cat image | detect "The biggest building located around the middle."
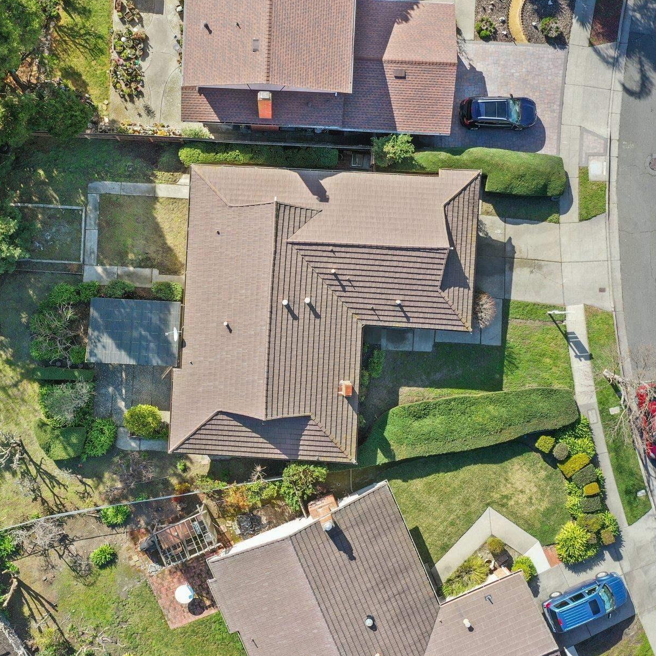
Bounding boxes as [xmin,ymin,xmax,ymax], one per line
[168,165,480,462]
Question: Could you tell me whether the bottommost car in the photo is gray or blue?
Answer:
blue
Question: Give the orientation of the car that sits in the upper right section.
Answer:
from left to right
